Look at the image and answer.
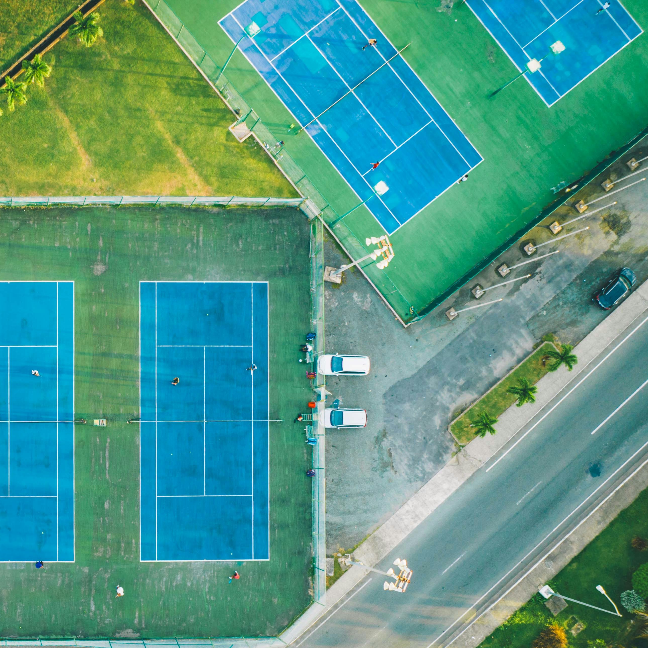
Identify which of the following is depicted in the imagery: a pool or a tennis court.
tennis court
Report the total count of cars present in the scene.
3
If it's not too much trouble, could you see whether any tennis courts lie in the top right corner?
Yes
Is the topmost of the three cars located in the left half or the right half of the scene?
right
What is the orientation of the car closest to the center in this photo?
from side to side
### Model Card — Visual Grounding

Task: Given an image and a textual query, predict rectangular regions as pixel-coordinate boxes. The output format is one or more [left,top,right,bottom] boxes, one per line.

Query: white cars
[315,351,370,378]
[317,405,369,432]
